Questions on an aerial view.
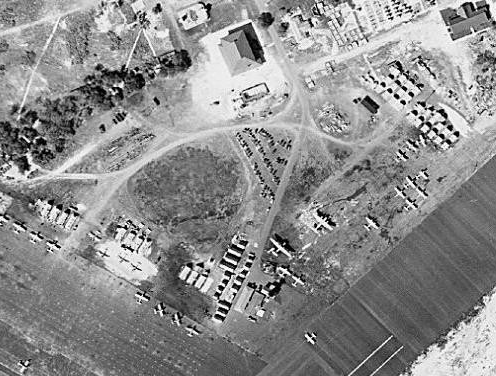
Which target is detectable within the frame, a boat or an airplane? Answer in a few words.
airplane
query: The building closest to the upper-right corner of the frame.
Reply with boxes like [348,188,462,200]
[444,0,491,41]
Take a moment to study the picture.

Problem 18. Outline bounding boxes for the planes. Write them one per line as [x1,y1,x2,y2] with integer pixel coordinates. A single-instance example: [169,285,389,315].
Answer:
[364,219,376,231]
[291,276,303,289]
[186,328,198,338]
[406,141,417,153]
[417,137,427,146]
[118,257,128,266]
[306,333,317,345]
[406,200,417,211]
[136,295,148,305]
[277,267,290,279]
[396,152,407,163]
[170,314,181,327]
[14,224,26,235]
[416,188,427,199]
[269,239,290,260]
[47,243,59,253]
[20,362,28,371]
[153,305,164,317]
[394,188,406,199]
[30,233,42,244]
[418,171,428,180]
[313,215,332,233]
[405,177,416,188]
[98,252,108,262]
